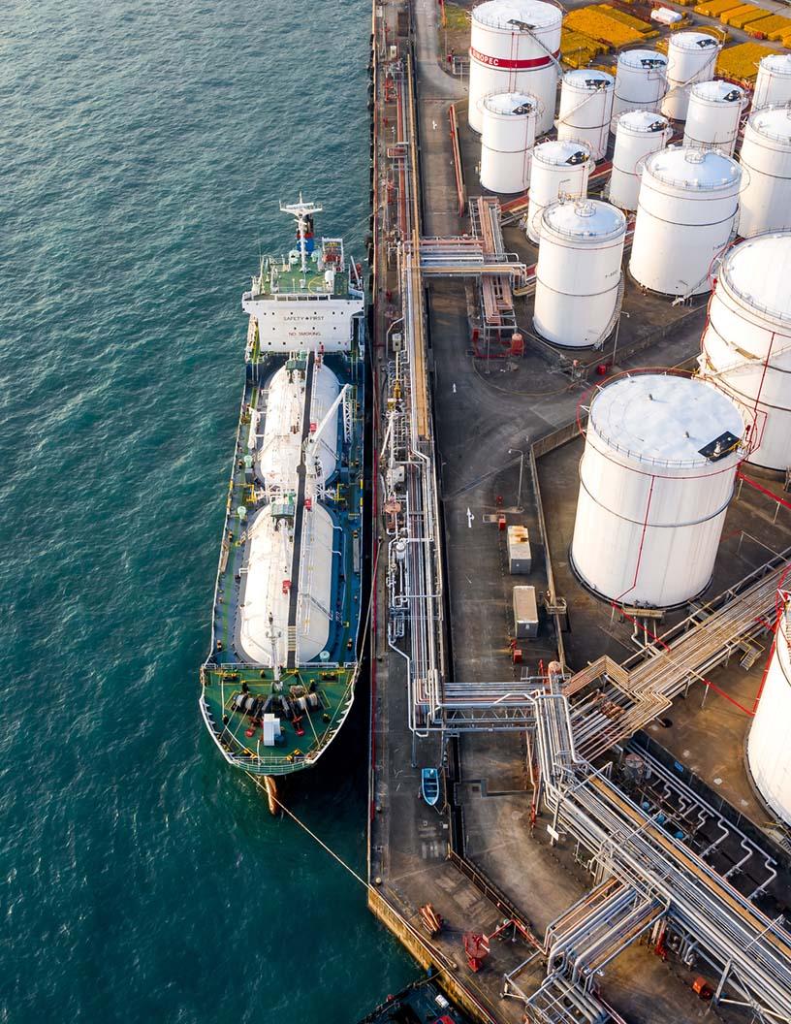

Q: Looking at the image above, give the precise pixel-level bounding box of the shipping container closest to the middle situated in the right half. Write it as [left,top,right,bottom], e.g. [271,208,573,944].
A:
[506,526,533,573]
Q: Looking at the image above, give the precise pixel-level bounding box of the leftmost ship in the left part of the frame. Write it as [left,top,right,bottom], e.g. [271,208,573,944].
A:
[198,185,368,820]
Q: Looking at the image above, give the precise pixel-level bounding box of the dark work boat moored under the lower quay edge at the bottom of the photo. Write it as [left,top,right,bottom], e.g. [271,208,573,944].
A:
[368,980,467,1024]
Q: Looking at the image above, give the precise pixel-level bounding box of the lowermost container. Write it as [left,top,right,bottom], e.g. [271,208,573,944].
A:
[511,581,540,637]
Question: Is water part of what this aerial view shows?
Yes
